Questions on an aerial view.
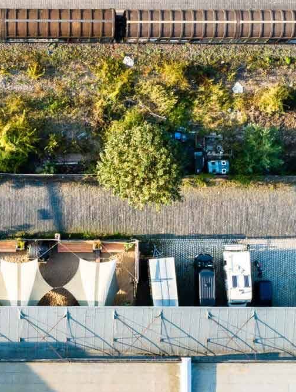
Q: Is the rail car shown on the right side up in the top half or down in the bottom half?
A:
top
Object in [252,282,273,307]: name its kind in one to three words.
car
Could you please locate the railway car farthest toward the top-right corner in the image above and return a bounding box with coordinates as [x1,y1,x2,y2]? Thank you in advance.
[117,8,296,45]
